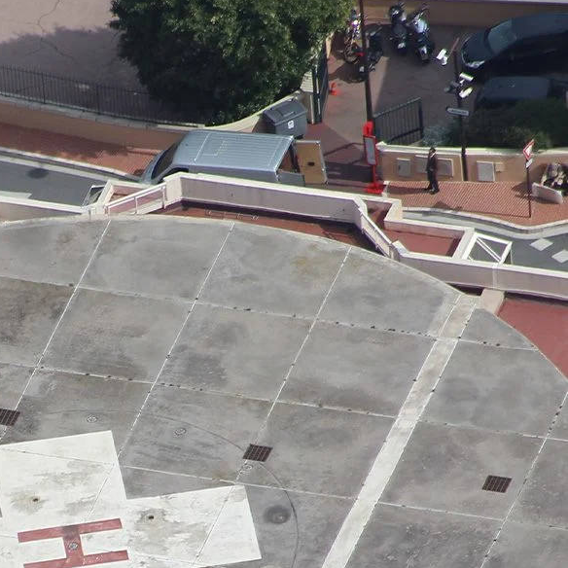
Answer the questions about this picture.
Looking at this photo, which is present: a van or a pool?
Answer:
van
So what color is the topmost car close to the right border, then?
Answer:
black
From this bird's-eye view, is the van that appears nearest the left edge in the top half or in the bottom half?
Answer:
top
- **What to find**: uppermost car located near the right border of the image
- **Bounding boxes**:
[459,4,568,86]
